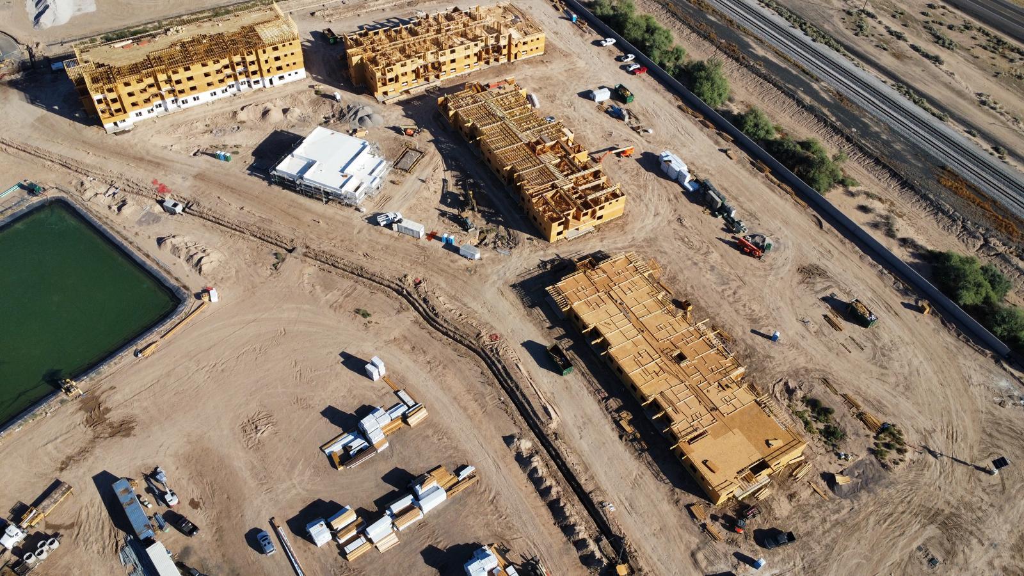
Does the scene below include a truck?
Yes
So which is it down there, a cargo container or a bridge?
cargo container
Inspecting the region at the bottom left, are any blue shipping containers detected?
Yes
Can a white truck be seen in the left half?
Yes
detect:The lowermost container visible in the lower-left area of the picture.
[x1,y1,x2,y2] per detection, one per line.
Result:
[146,542,178,576]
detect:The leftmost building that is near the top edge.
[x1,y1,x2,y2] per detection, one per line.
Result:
[64,0,307,135]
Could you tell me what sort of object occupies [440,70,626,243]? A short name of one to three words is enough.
building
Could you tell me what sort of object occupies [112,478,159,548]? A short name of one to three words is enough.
shipping container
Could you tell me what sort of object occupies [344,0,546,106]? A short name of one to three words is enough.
building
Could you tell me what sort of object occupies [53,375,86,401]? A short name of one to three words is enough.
work vehicle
